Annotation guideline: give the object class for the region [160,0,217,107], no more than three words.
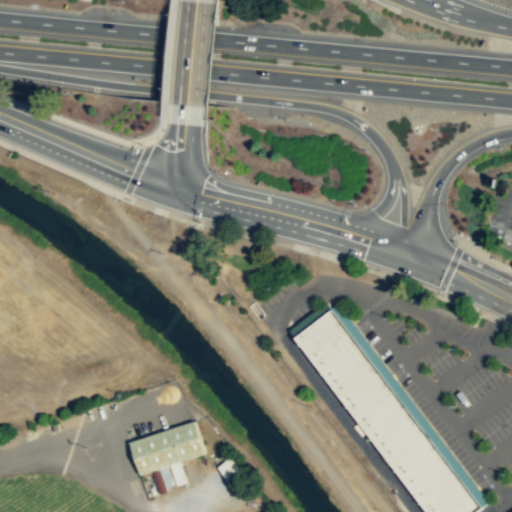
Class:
bridge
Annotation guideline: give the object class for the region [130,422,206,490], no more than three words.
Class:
barn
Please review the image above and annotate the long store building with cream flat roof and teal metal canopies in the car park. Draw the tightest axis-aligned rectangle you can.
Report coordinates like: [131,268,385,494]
[289,304,486,512]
